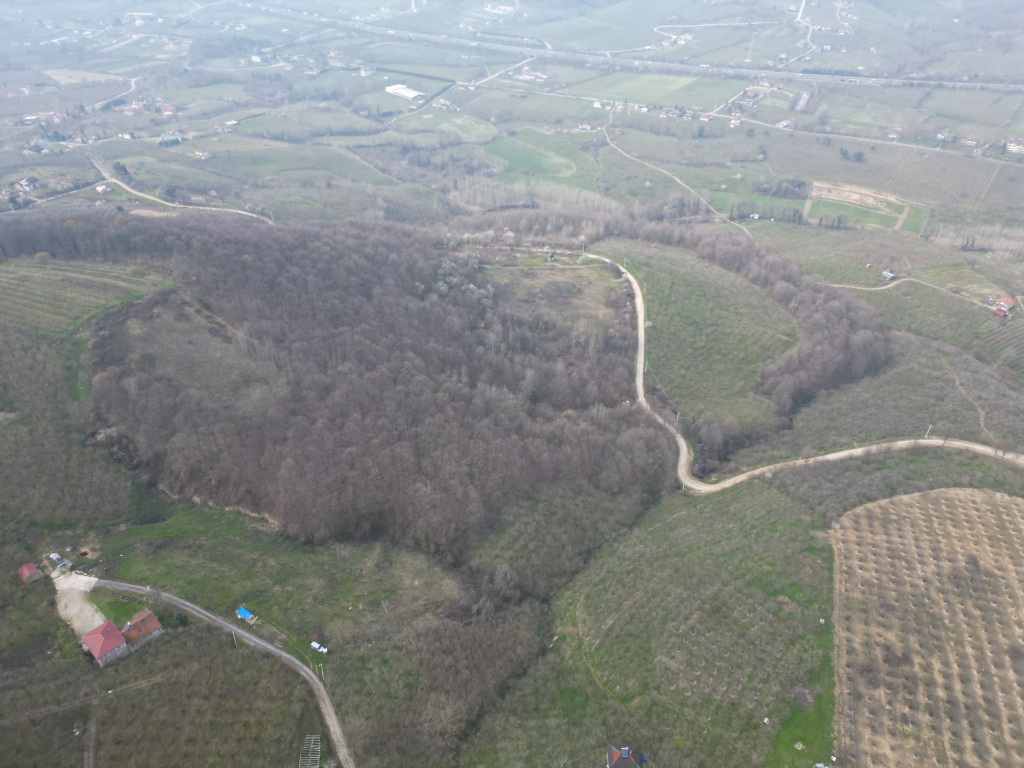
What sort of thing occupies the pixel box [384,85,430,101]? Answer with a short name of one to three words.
building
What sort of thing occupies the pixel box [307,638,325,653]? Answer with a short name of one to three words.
vehicle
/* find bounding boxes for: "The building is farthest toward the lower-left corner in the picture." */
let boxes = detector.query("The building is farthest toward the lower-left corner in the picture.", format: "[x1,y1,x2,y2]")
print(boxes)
[79,620,128,664]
